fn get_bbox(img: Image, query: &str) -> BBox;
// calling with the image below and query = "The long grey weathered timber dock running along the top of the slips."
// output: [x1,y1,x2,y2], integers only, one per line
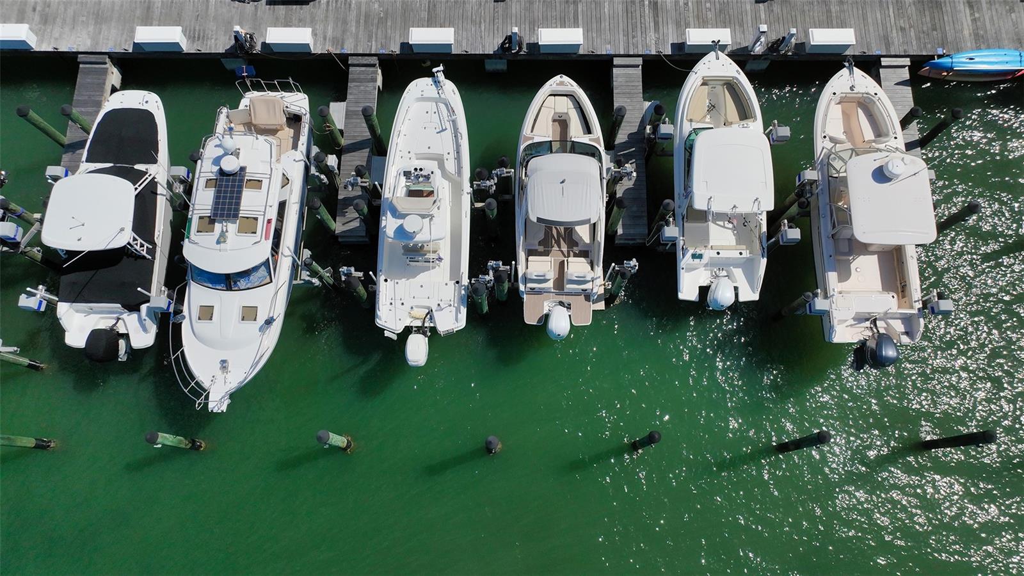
[0,0,1024,60]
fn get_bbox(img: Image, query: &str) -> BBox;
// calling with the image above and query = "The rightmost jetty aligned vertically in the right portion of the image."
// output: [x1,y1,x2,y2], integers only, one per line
[879,58,924,162]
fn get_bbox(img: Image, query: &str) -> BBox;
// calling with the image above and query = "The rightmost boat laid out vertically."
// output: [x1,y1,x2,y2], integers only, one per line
[808,51,955,373]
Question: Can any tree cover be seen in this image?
No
